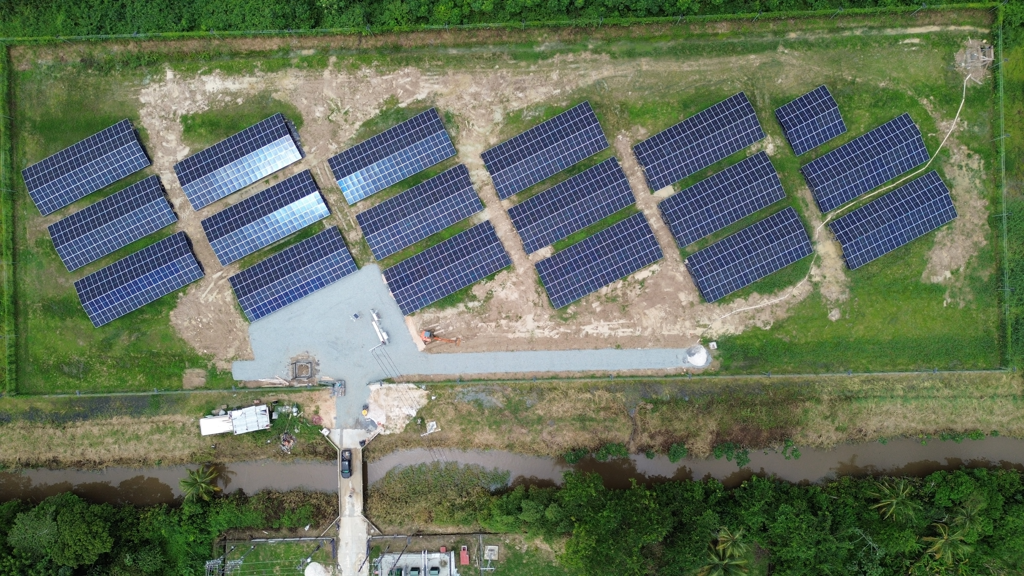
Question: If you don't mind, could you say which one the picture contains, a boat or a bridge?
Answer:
bridge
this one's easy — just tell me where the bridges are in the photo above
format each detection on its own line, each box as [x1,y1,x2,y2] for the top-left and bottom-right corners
[318,430,382,537]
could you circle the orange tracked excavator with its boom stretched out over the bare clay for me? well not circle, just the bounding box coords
[418,327,457,345]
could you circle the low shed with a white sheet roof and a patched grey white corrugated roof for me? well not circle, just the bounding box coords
[195,405,270,438]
